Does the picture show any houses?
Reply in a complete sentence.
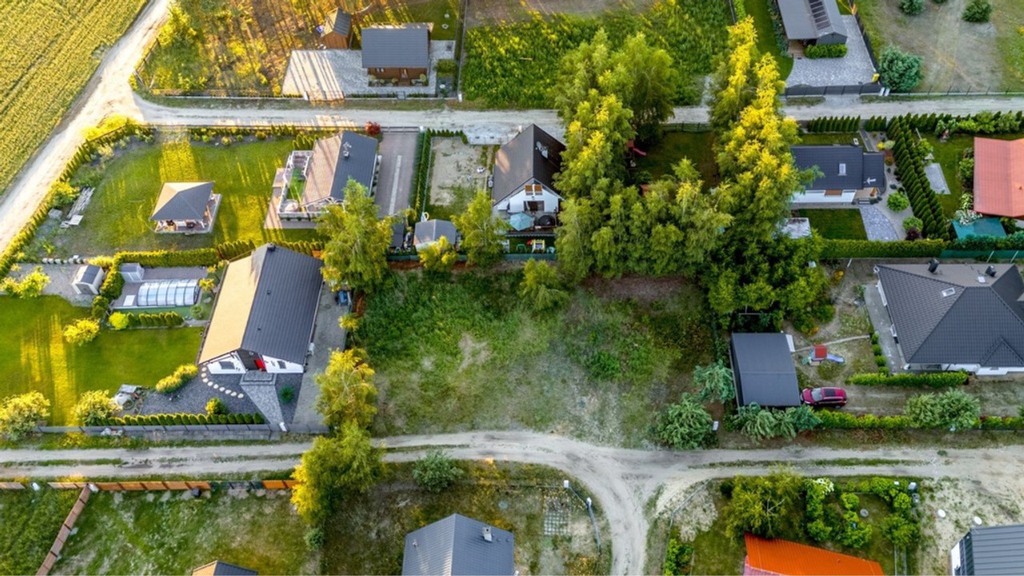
Yes, looking at the shot, I can spot a house.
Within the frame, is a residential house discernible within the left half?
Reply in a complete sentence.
Yes, a residential house shows up within the left half.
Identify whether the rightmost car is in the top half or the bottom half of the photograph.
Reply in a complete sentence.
The bottom half of the photo is where the rightmost car is.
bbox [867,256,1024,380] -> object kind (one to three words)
house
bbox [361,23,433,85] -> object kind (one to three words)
building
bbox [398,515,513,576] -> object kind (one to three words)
house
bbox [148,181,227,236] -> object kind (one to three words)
gazebo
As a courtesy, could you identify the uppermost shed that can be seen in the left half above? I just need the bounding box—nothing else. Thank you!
[319,8,353,50]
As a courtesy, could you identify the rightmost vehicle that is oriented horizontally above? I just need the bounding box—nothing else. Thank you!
[802,388,853,411]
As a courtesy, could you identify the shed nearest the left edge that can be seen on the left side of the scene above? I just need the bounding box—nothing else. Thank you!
[67,263,103,296]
